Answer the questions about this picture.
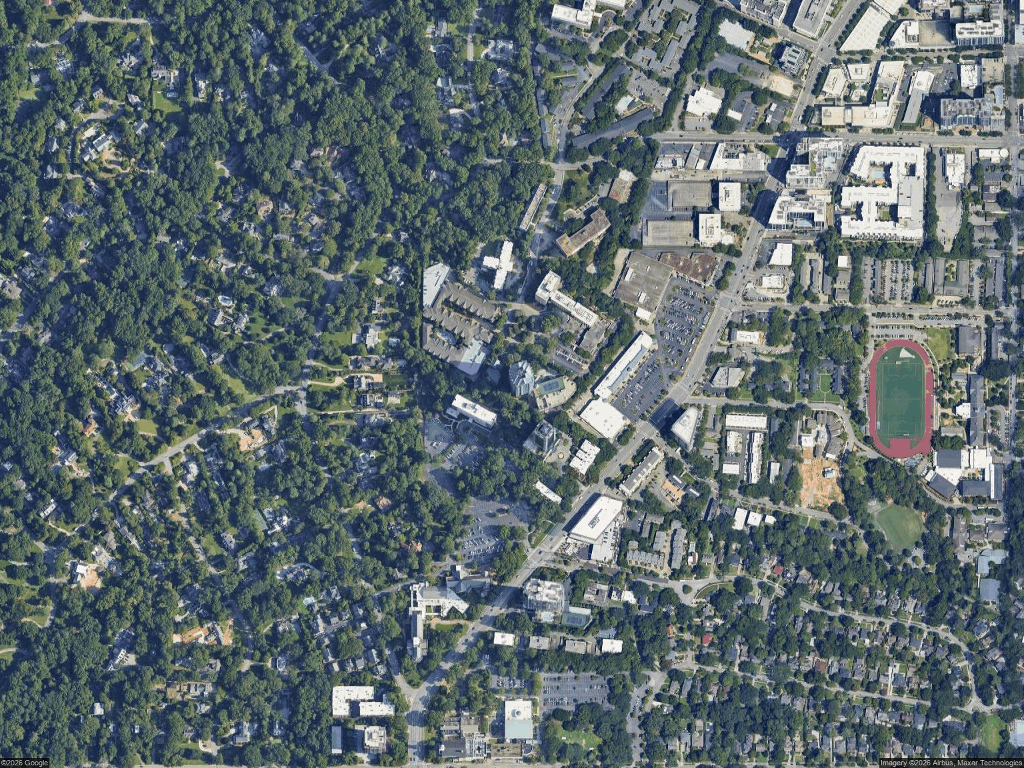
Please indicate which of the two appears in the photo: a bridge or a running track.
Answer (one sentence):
There is a running track in the scene.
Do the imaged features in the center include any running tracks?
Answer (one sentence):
No, no running track is visible in the center.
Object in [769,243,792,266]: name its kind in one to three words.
building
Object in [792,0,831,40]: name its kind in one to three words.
building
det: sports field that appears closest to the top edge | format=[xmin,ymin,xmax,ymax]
[928,328,955,363]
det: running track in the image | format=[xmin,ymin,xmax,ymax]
[869,339,933,458]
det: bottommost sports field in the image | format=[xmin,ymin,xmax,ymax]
[878,504,925,550]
